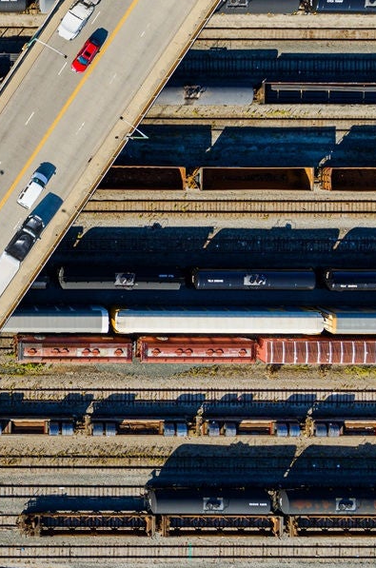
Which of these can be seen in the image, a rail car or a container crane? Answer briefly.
rail car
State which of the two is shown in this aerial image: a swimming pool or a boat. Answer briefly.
boat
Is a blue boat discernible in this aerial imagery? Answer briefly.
No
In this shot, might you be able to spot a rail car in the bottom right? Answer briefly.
Yes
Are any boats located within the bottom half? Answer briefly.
No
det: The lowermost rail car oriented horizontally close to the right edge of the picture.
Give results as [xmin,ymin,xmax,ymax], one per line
[272,485,376,518]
